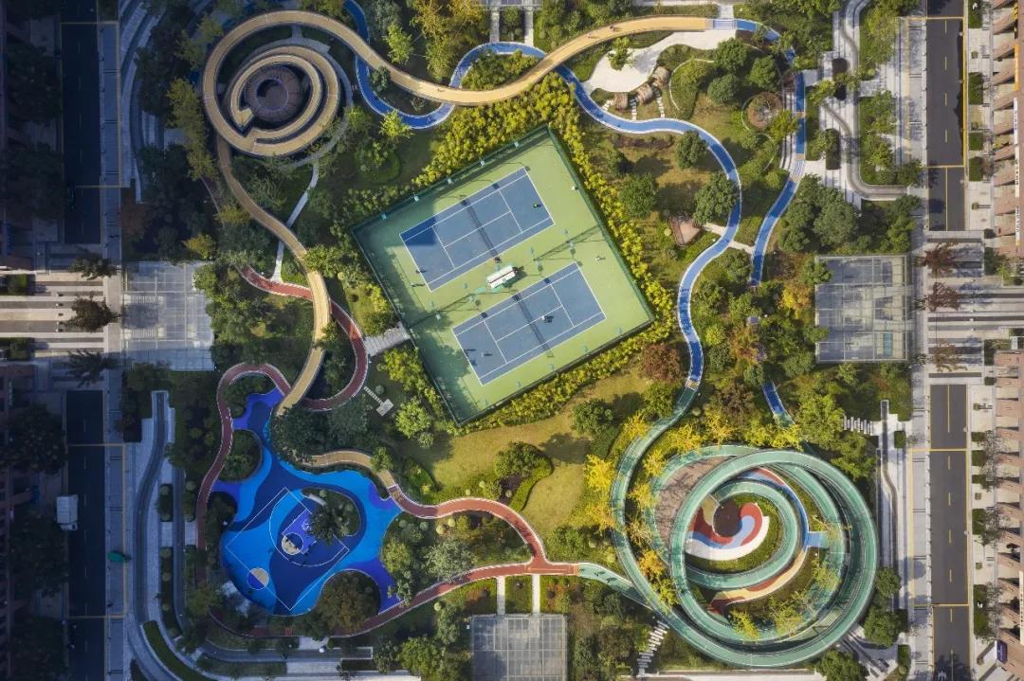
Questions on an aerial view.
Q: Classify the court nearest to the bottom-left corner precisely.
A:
basketball court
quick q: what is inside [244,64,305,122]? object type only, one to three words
building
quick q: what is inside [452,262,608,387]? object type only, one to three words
tennis court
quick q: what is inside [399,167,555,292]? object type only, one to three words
tennis court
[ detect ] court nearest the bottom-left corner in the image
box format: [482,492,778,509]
[207,389,404,616]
